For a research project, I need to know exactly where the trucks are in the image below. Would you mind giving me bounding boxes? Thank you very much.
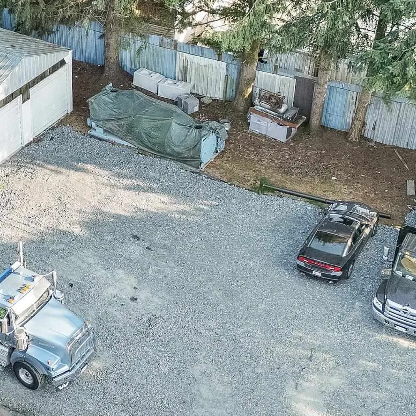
[0,232,102,394]
[375,226,416,338]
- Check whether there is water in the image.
No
